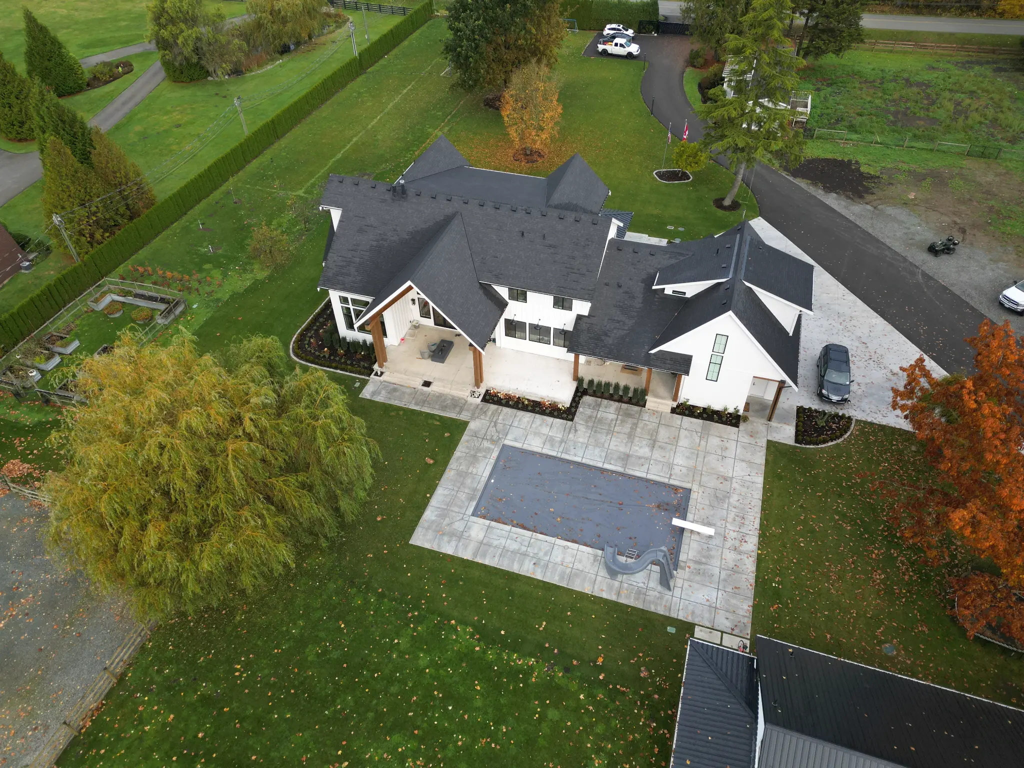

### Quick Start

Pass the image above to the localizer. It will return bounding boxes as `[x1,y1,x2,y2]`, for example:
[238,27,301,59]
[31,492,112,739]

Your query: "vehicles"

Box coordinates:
[999,269,1024,309]
[598,30,632,43]
[817,343,856,405]
[933,241,962,259]
[597,38,643,59]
